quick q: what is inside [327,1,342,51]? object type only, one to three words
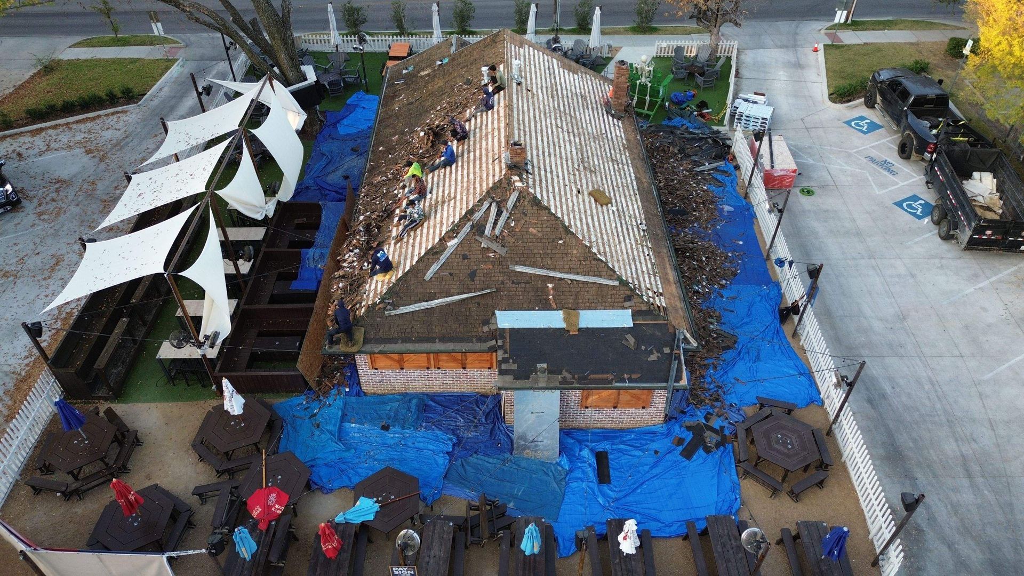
umbrella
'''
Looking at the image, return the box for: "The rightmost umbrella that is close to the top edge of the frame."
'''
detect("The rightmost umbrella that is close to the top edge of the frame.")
[587,5,604,56]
